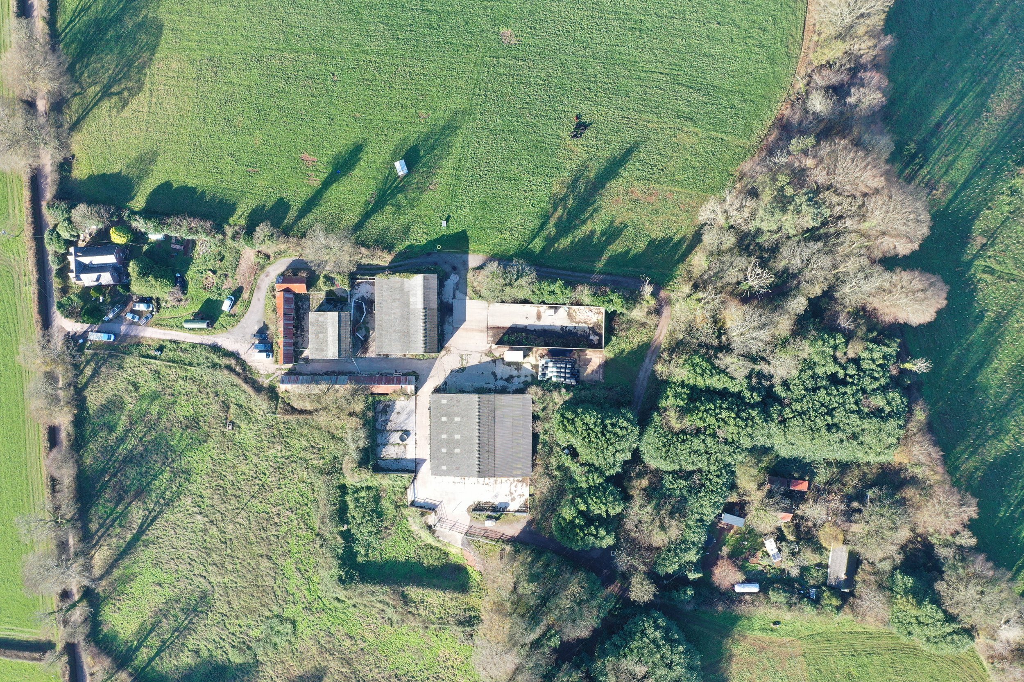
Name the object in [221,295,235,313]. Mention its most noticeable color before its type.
white vehicle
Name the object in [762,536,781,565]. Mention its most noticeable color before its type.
white camper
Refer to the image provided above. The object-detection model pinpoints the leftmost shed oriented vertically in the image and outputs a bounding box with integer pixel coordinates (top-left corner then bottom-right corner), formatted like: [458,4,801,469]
[276,291,295,364]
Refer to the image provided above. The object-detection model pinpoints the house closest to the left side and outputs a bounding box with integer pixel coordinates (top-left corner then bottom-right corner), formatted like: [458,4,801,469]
[64,245,132,286]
